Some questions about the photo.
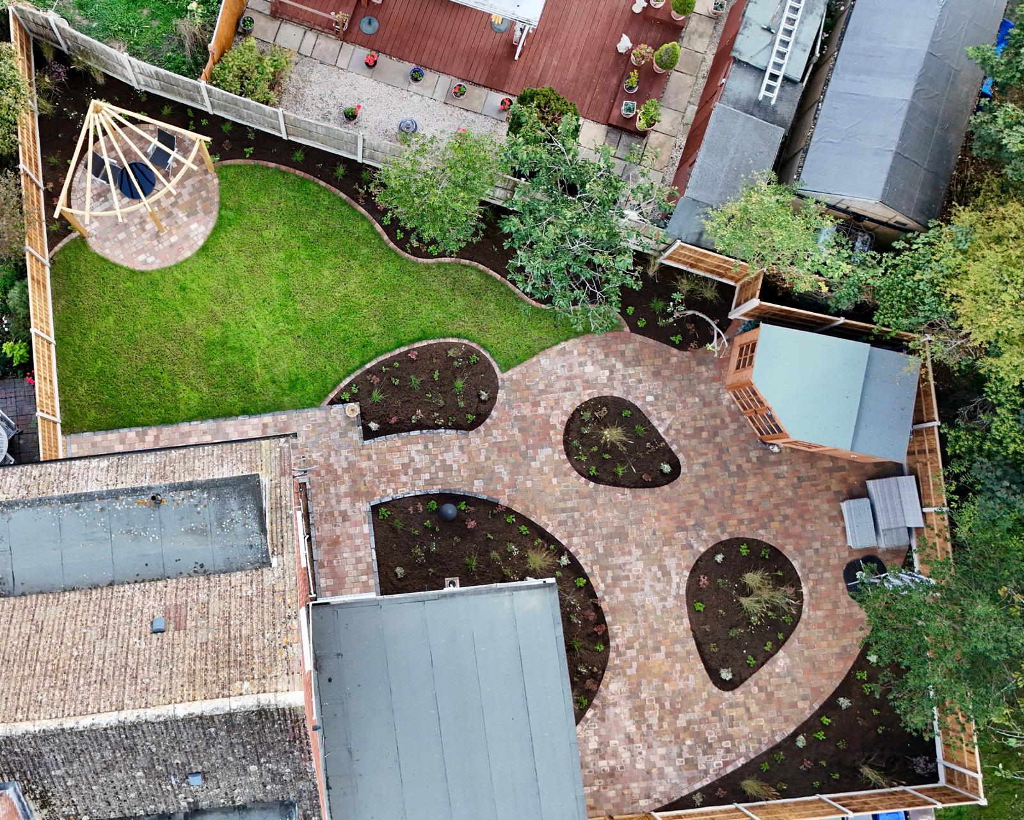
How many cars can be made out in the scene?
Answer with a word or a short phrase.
0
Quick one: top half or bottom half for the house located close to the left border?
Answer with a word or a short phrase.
bottom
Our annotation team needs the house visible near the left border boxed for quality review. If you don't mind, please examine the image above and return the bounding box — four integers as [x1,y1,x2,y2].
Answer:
[0,432,330,820]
